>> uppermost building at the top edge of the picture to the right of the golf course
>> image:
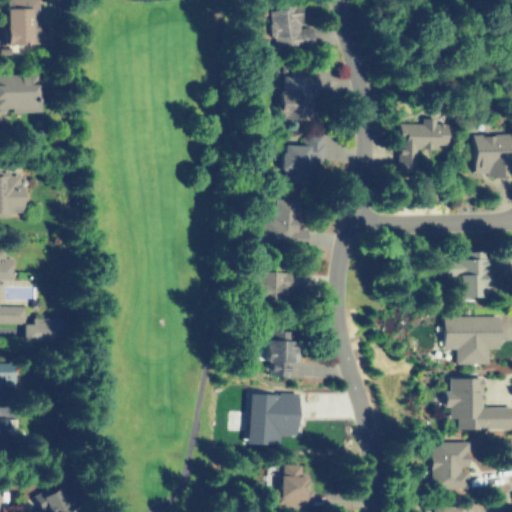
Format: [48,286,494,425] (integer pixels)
[271,10,316,45]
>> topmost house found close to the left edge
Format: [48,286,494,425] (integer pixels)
[10,0,42,45]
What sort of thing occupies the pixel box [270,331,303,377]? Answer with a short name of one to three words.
house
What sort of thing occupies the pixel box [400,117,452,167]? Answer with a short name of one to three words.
house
